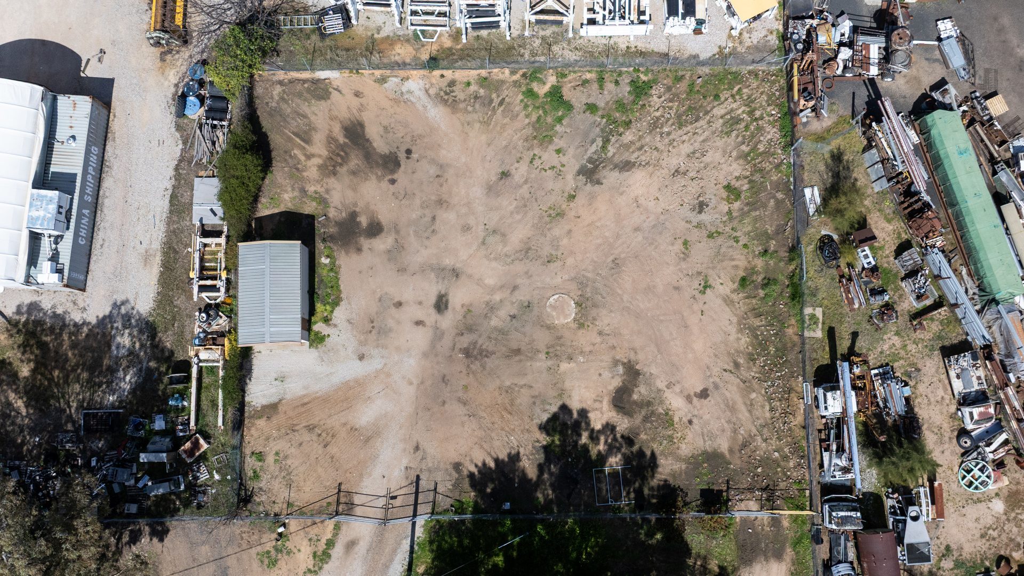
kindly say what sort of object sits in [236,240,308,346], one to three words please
shed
